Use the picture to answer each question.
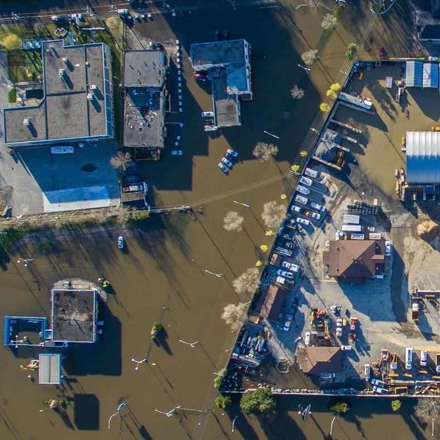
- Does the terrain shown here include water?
Yes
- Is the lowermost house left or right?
right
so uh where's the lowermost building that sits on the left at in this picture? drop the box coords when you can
[52,289,102,342]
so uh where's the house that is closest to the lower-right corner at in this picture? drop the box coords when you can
[298,346,342,373]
